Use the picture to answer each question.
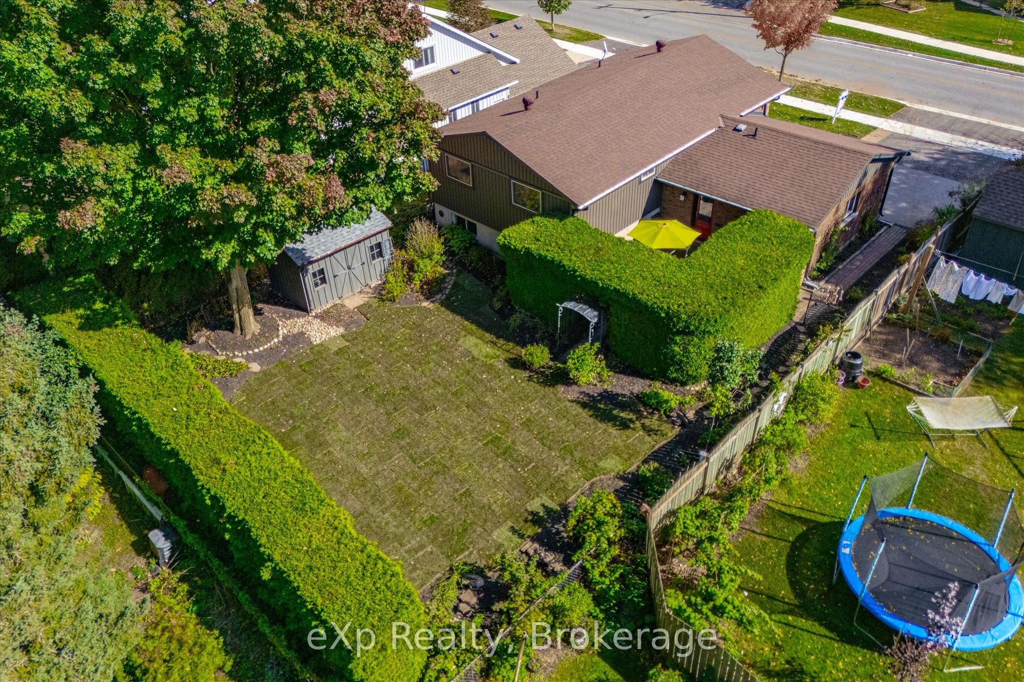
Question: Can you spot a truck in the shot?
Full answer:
No, I find no truck anywhere in the image.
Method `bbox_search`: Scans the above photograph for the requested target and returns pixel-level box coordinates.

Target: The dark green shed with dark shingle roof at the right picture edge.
[961,157,1024,288]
